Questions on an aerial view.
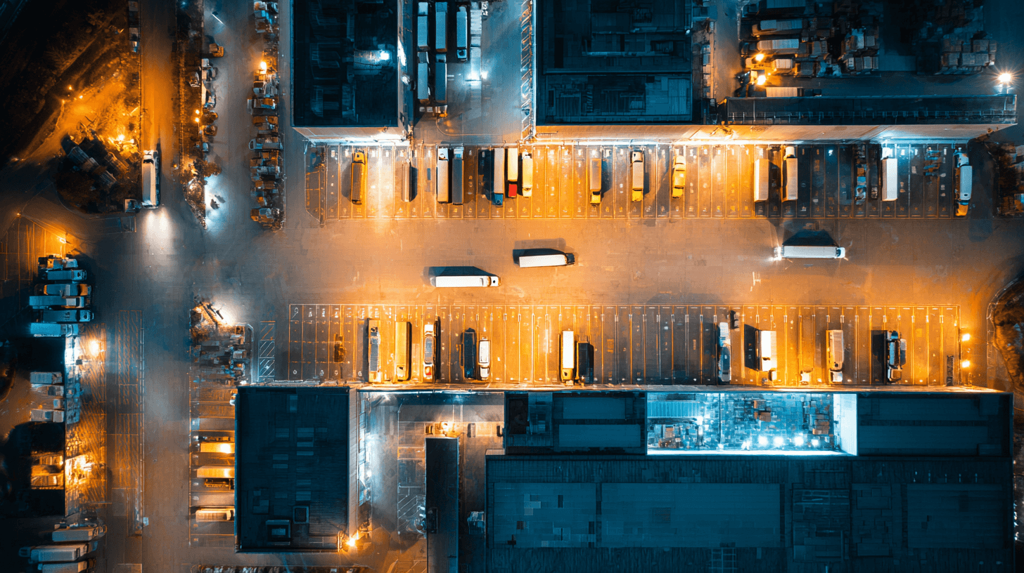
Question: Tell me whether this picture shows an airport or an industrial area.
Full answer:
The picture captures an industrial area.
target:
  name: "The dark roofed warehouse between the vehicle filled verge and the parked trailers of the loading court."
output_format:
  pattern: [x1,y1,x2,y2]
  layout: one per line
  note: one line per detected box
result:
[292,0,407,145]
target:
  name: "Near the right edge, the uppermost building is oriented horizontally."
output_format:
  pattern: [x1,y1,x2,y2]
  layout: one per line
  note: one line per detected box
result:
[681,96,1016,145]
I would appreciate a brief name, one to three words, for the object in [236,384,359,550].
warehouse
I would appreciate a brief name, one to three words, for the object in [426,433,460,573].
building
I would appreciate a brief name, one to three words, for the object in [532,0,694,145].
warehouse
